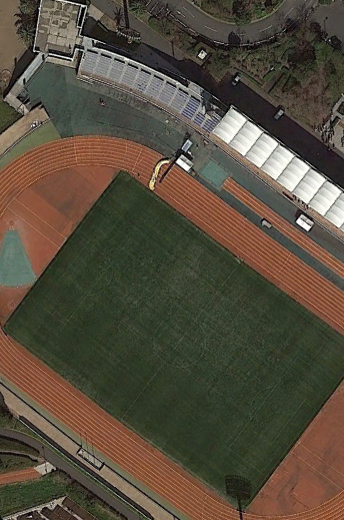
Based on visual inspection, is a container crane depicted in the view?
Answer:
No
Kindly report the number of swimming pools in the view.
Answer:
zero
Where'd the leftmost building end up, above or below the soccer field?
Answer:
above it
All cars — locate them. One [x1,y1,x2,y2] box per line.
[275,109,285,120]
[231,74,242,86]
